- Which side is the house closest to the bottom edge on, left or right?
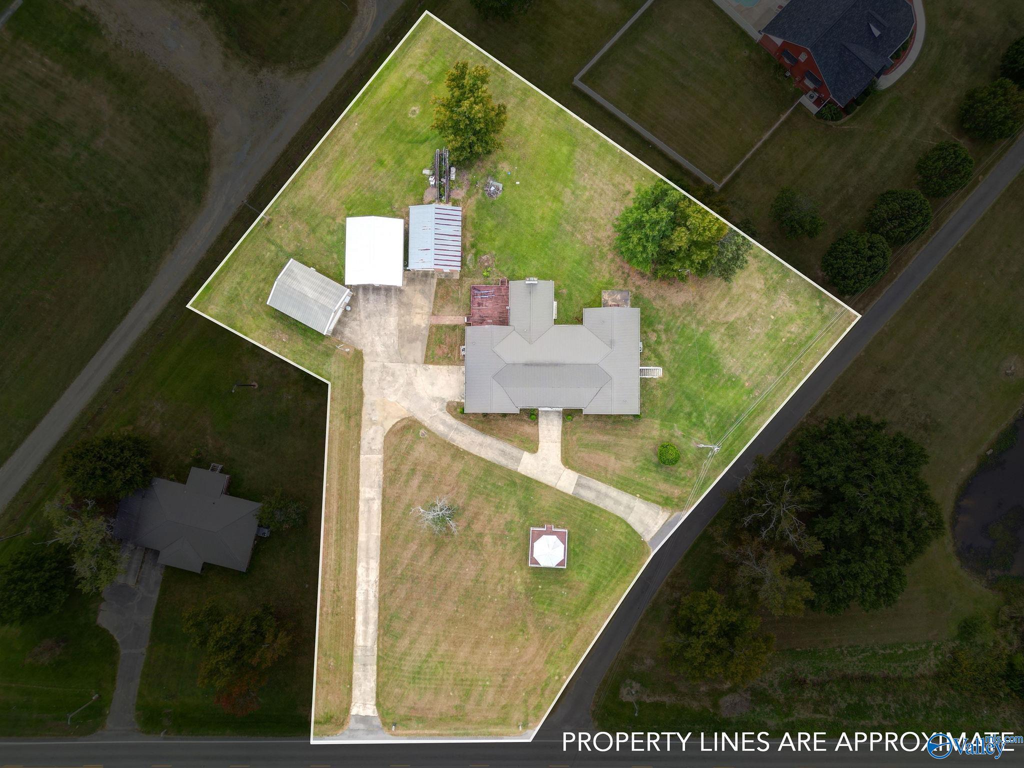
left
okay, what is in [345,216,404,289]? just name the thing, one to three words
building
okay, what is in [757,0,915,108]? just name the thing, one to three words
house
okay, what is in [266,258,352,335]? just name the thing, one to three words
building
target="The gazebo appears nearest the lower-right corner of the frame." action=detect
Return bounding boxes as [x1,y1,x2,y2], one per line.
[529,523,568,570]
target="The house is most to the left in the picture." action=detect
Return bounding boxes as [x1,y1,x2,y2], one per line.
[113,466,263,574]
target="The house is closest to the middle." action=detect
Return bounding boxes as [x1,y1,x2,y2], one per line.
[464,276,641,415]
